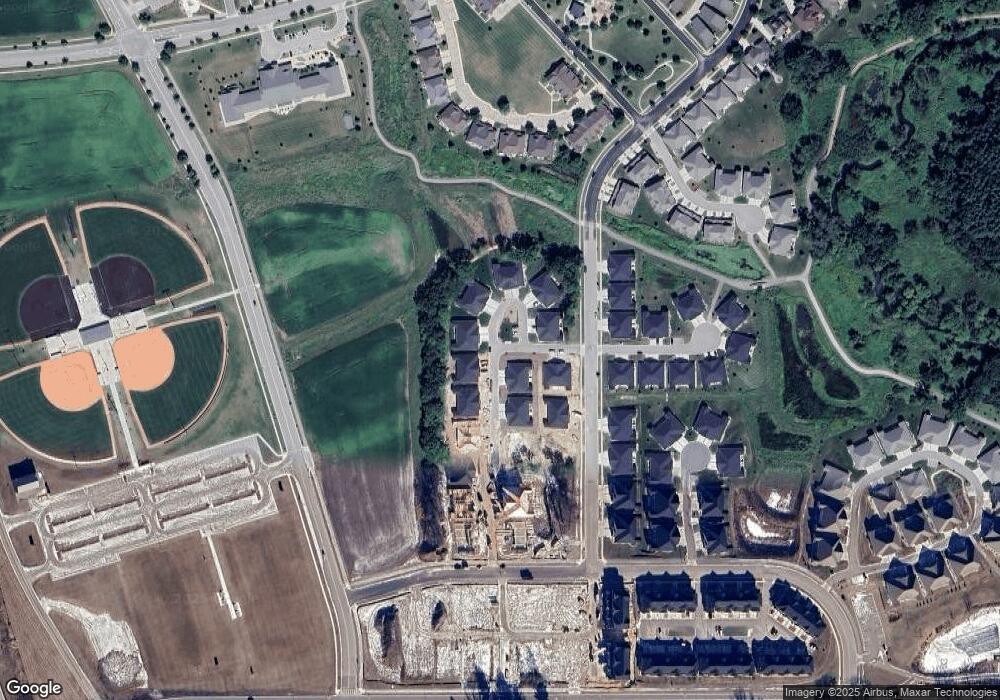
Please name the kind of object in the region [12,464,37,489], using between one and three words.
building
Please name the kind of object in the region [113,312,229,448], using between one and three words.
baseball field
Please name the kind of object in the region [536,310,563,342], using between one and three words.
house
